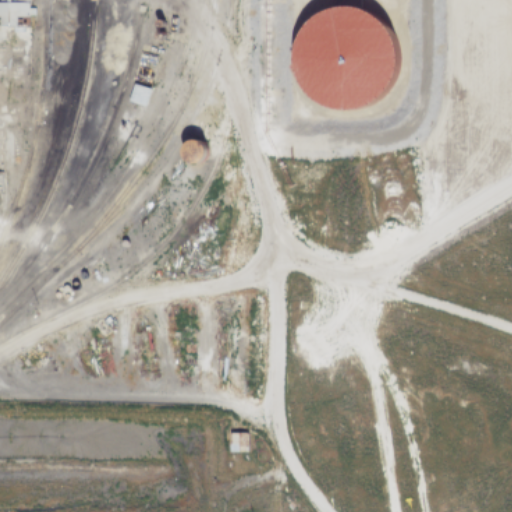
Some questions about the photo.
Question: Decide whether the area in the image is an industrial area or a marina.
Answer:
industrial area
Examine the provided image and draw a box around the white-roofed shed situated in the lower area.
[230,432,250,452]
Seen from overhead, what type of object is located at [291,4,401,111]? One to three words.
storage tank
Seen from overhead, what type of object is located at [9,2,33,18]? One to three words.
building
